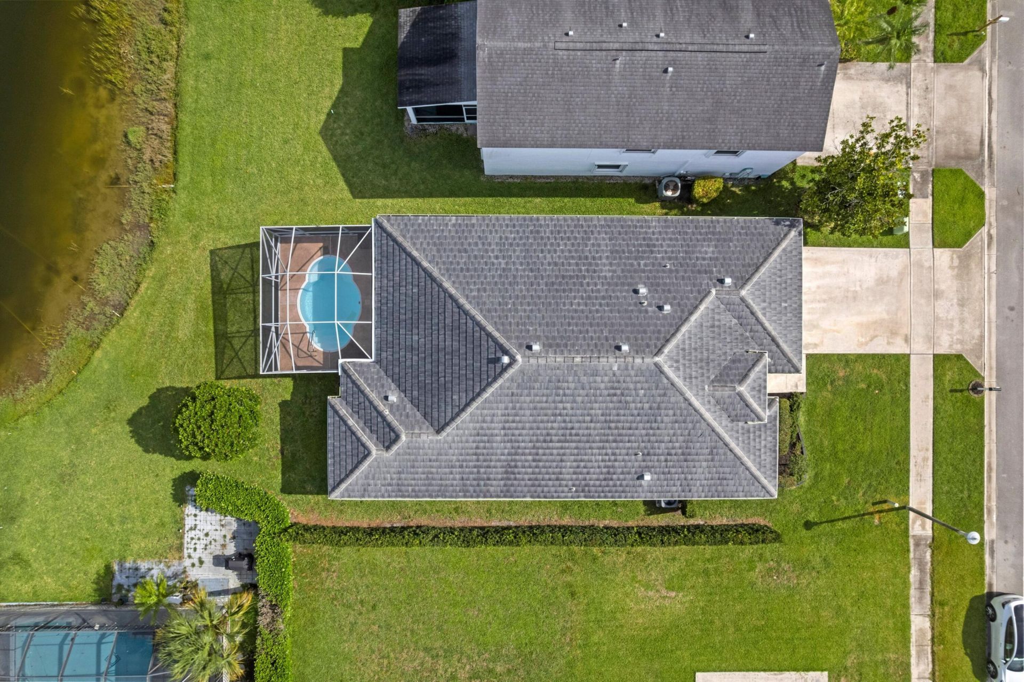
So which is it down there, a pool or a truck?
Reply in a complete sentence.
The one in the frame is a pool.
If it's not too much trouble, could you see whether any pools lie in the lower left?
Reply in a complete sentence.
Yes, a pool can be seen in the lower left.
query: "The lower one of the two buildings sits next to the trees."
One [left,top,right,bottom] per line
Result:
[326,213,805,501]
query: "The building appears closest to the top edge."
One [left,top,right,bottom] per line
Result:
[398,0,841,180]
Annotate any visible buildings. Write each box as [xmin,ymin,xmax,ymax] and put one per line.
[326,213,805,501]
[398,0,841,180]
